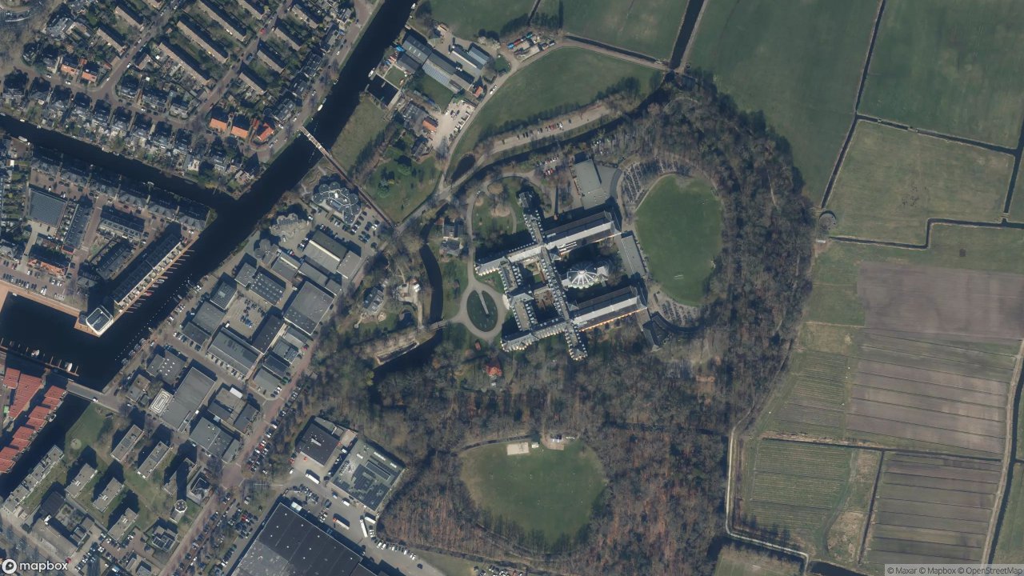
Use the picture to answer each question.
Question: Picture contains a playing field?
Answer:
Yes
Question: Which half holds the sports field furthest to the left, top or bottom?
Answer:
bottom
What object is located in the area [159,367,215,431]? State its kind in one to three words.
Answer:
building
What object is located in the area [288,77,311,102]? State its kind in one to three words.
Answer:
house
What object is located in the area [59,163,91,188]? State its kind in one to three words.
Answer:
house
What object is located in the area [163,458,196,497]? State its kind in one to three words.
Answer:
building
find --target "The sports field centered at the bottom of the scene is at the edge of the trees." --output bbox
[462,437,607,547]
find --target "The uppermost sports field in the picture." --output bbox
[636,174,722,305]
